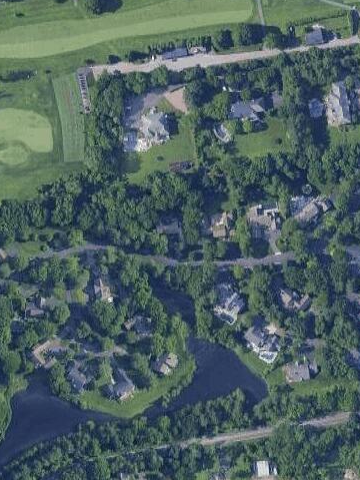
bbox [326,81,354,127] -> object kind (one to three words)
house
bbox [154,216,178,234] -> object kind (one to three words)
house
